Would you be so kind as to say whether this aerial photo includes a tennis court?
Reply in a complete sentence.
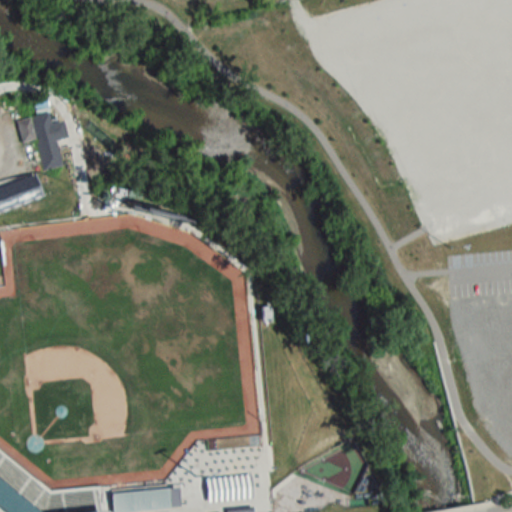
No, no tennis court is visible in the view.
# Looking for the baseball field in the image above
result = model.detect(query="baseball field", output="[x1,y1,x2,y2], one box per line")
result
[0,212,259,490]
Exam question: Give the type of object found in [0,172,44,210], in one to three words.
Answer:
building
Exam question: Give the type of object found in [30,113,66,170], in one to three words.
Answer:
house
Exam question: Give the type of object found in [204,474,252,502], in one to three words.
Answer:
building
